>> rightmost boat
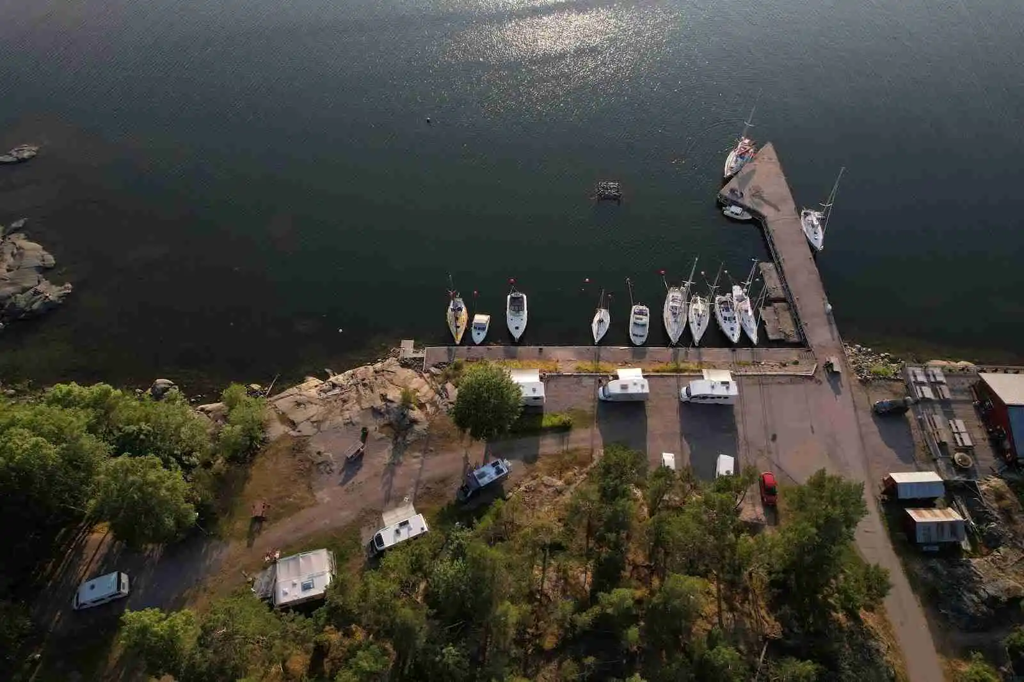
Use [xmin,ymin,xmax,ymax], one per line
[796,167,844,251]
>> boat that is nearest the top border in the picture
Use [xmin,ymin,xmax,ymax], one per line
[725,105,756,180]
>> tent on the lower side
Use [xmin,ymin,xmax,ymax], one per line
[246,569,276,607]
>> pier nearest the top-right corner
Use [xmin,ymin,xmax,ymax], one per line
[718,144,846,362]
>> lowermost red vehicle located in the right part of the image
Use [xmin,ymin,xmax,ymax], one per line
[758,474,779,506]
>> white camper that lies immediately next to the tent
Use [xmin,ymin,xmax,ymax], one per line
[270,542,343,602]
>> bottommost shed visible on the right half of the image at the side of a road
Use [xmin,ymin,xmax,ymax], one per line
[901,507,966,546]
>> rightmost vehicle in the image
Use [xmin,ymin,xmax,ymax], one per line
[868,399,910,420]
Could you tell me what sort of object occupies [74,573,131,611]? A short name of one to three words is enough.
van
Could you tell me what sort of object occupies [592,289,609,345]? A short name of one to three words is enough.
boat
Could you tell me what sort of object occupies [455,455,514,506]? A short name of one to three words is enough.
truck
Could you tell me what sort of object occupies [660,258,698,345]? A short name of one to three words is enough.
boat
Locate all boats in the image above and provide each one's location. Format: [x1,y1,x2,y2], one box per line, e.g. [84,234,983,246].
[505,284,528,343]
[592,289,609,345]
[712,259,758,345]
[629,298,650,346]
[732,284,768,346]
[725,105,756,180]
[471,314,490,346]
[660,258,698,345]
[443,274,468,346]
[721,203,751,223]
[687,263,724,347]
[796,167,844,251]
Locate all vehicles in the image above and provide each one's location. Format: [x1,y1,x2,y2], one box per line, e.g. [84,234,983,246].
[868,399,910,420]
[74,573,131,611]
[758,474,779,506]
[599,365,650,406]
[455,455,514,506]
[712,455,735,485]
[658,451,677,496]
[504,368,545,408]
[372,502,432,559]
[678,366,739,407]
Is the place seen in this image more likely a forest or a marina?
marina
